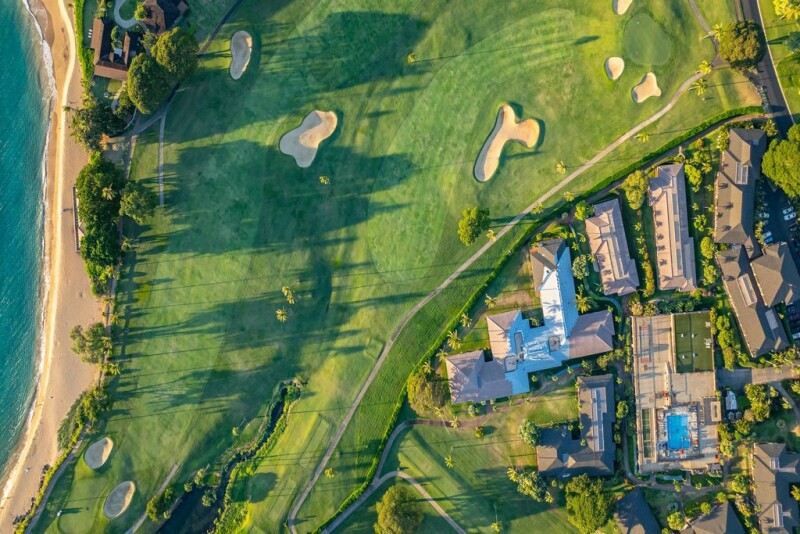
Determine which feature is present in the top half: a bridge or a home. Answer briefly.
home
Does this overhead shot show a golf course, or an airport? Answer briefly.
golf course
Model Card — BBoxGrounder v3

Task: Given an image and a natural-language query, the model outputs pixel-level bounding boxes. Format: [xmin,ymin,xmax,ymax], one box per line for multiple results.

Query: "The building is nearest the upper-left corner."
[90,17,141,82]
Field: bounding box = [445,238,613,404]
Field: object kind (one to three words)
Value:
building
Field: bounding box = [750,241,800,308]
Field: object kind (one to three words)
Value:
building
